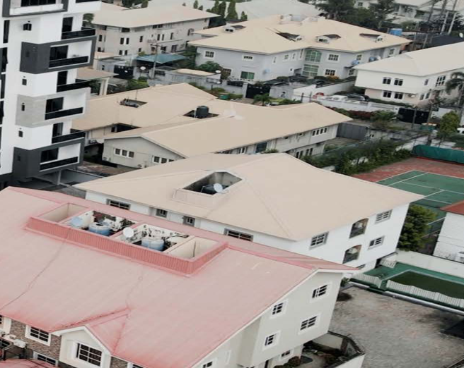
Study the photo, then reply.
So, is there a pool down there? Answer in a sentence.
No, I can't see a single pool in this photo.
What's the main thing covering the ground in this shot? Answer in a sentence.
For the most part, this view shows buildings.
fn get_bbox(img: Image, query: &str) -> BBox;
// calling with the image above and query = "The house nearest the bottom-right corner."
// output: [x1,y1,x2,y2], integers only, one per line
[434,201,464,258]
